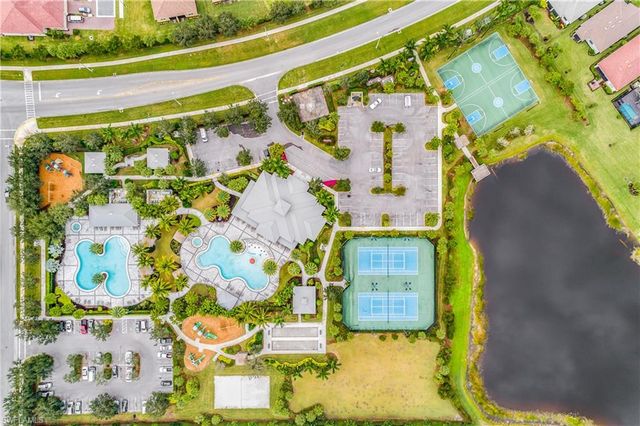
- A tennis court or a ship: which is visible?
tennis court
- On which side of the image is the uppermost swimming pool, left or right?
right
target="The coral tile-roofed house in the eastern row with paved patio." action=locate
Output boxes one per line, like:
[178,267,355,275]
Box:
[593,35,640,92]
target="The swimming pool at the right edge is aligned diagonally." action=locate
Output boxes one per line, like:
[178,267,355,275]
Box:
[617,102,640,125]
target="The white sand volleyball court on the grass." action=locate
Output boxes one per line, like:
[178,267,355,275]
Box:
[214,375,270,411]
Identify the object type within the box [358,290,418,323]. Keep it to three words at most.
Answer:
tennis court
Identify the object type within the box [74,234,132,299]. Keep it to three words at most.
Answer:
swimming pool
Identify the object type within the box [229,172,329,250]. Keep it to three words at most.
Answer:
building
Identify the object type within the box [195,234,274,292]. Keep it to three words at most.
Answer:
swimming pool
